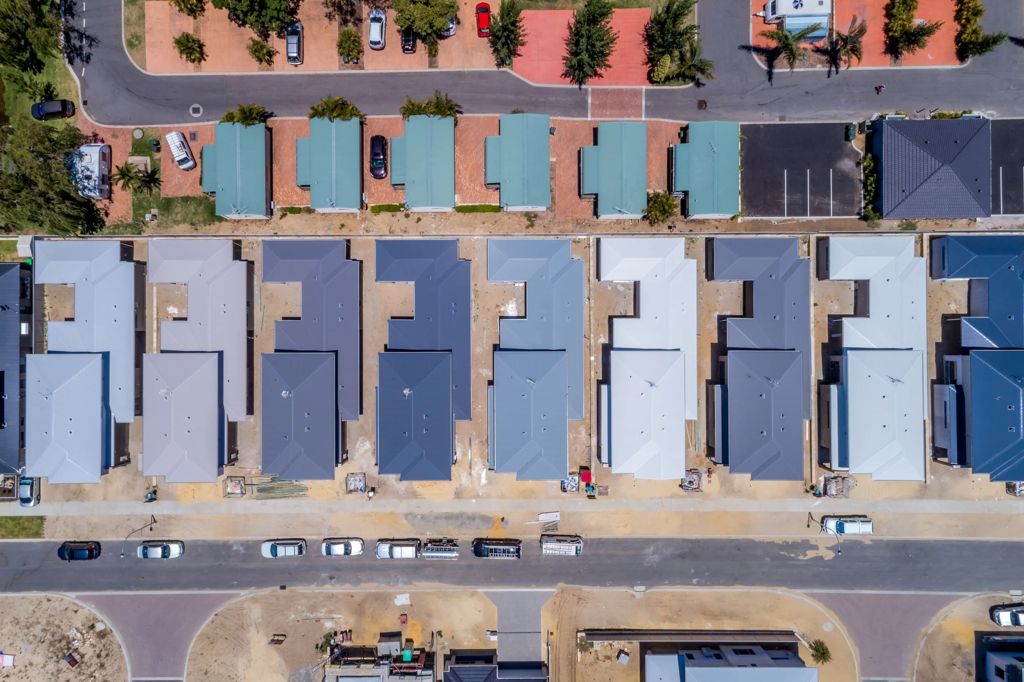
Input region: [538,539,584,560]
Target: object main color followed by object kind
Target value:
white vehicle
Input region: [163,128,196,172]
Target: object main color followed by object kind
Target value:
white van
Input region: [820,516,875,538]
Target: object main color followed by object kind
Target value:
white truck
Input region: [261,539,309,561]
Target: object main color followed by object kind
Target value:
white car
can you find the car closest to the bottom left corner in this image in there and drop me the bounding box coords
[58,541,103,562]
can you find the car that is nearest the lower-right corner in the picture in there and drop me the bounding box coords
[989,602,1024,628]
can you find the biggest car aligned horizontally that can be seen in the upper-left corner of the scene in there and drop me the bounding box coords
[30,99,78,122]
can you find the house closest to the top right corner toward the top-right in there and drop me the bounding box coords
[876,119,992,220]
